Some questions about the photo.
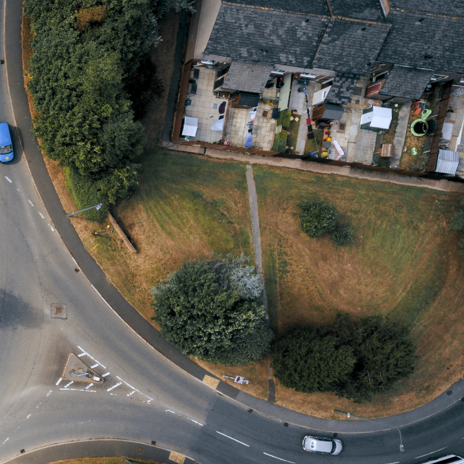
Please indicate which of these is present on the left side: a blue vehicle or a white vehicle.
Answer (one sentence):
The feature located on the left side is a blue vehicle.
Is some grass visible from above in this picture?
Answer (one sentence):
Yes, there's grass in this view.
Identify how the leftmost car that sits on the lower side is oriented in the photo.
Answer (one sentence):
What the image shows is the leftmost car that sits on the lower side lying from side to side.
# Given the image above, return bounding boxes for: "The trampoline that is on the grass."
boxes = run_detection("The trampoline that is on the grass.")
[409,120,428,136]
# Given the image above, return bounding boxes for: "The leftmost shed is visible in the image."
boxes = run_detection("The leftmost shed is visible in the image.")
[178,116,199,139]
